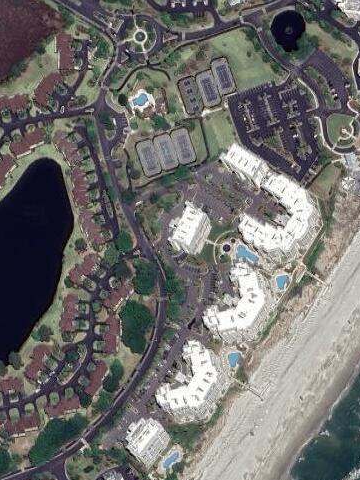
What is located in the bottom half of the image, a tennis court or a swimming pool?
swimming pool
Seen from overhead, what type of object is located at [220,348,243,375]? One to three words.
swimming pool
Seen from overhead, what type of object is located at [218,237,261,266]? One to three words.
swimming pool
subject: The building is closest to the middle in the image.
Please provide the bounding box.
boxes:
[163,199,212,257]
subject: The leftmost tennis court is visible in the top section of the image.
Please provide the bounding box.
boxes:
[137,140,161,177]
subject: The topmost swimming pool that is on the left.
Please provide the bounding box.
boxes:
[128,89,155,112]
